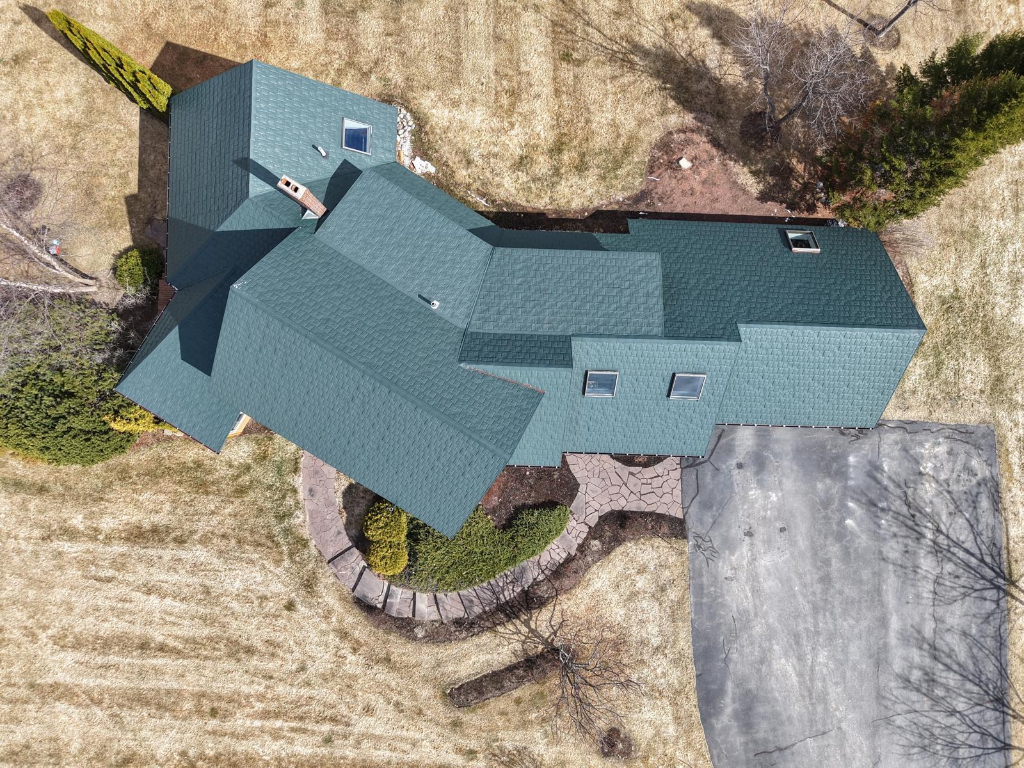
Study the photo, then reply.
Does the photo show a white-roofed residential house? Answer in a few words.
No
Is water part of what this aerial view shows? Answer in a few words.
No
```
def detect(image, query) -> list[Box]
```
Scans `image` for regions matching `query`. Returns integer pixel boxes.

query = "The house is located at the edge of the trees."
[116,59,926,536]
